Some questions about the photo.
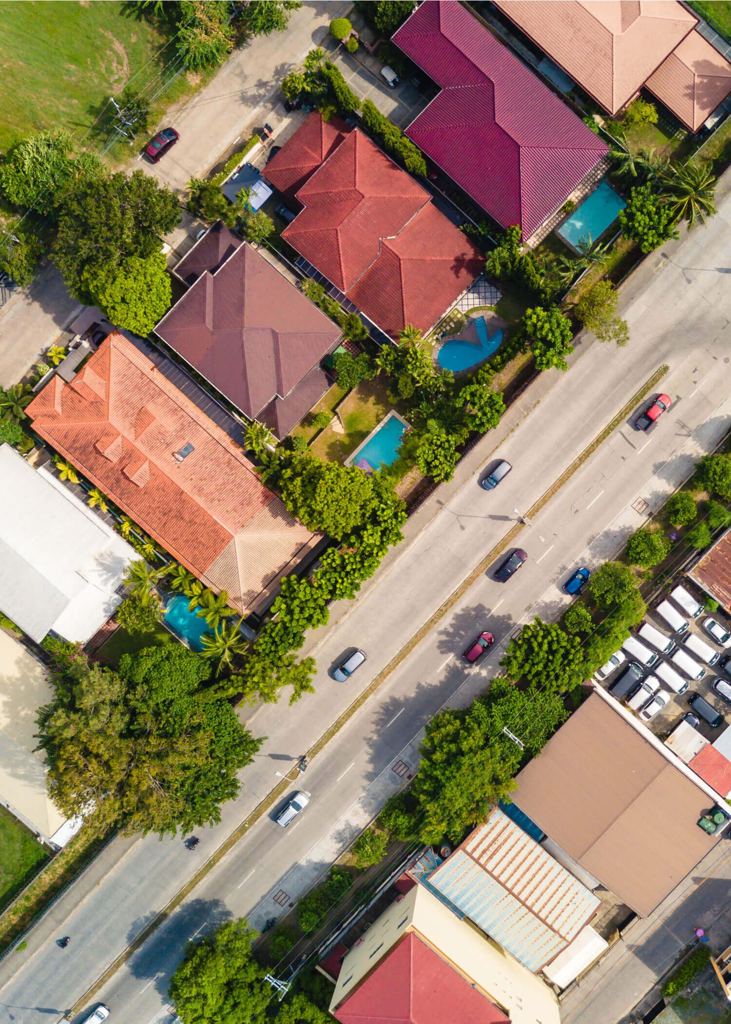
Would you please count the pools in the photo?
4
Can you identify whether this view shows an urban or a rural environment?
urban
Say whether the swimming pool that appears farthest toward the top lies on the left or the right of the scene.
right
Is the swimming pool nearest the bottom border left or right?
left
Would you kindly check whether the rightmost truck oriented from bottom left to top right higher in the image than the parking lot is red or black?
red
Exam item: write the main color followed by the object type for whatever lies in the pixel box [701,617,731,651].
white car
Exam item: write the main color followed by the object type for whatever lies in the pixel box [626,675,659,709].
white vehicle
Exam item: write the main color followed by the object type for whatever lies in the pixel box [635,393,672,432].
red truck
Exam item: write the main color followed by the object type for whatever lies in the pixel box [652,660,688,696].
white van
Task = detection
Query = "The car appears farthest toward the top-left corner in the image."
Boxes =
[143,130,181,166]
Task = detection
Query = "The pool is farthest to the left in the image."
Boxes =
[159,592,227,656]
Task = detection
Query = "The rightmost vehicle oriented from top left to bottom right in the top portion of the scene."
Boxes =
[407,74,437,104]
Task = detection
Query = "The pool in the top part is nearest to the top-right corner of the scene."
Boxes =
[554,178,630,254]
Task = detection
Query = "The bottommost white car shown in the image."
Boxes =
[80,1001,111,1024]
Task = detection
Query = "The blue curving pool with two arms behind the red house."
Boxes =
[436,315,505,372]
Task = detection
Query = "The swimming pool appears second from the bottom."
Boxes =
[343,410,412,481]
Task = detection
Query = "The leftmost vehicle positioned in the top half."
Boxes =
[88,329,108,347]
